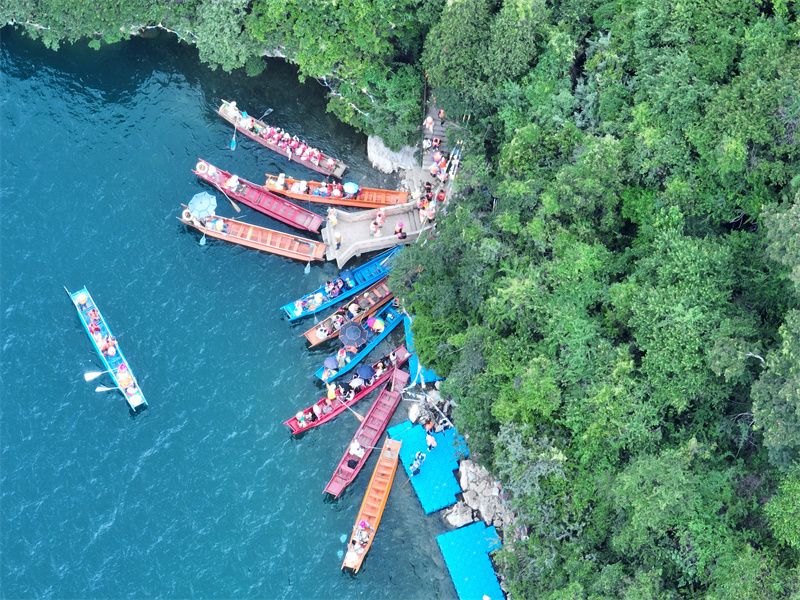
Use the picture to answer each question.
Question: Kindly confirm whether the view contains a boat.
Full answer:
Yes, I can see a boat in this picture.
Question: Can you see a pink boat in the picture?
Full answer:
Yes, there is a pink boat in the image.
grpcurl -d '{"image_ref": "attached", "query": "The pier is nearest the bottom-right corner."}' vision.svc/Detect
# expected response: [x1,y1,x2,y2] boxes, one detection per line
[436,519,506,600]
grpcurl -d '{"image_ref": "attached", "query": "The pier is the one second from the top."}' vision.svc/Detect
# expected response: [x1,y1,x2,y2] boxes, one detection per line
[399,313,438,390]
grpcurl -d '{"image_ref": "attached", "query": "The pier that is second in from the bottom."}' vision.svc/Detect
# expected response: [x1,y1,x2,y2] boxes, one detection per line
[390,417,470,515]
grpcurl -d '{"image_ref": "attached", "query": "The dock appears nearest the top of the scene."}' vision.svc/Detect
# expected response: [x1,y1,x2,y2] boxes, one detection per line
[321,198,440,272]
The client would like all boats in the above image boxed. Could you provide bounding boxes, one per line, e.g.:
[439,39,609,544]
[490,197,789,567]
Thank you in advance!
[339,434,405,579]
[311,305,406,386]
[259,173,409,205]
[280,342,413,434]
[172,204,327,259]
[66,282,148,410]
[211,97,347,177]
[298,280,400,348]
[188,156,325,231]
[319,366,411,504]
[277,248,405,323]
